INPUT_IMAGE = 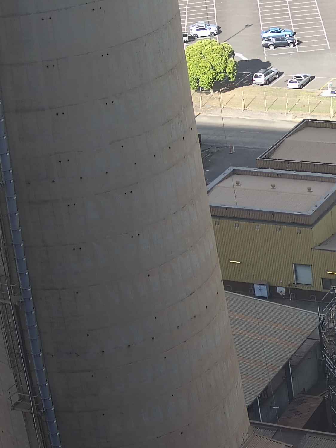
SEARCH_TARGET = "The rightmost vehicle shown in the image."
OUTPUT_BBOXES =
[289,72,312,86]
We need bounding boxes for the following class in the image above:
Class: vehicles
[188,22,217,37]
[263,26,292,37]
[289,72,312,86]
[264,33,298,47]
[254,67,279,83]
